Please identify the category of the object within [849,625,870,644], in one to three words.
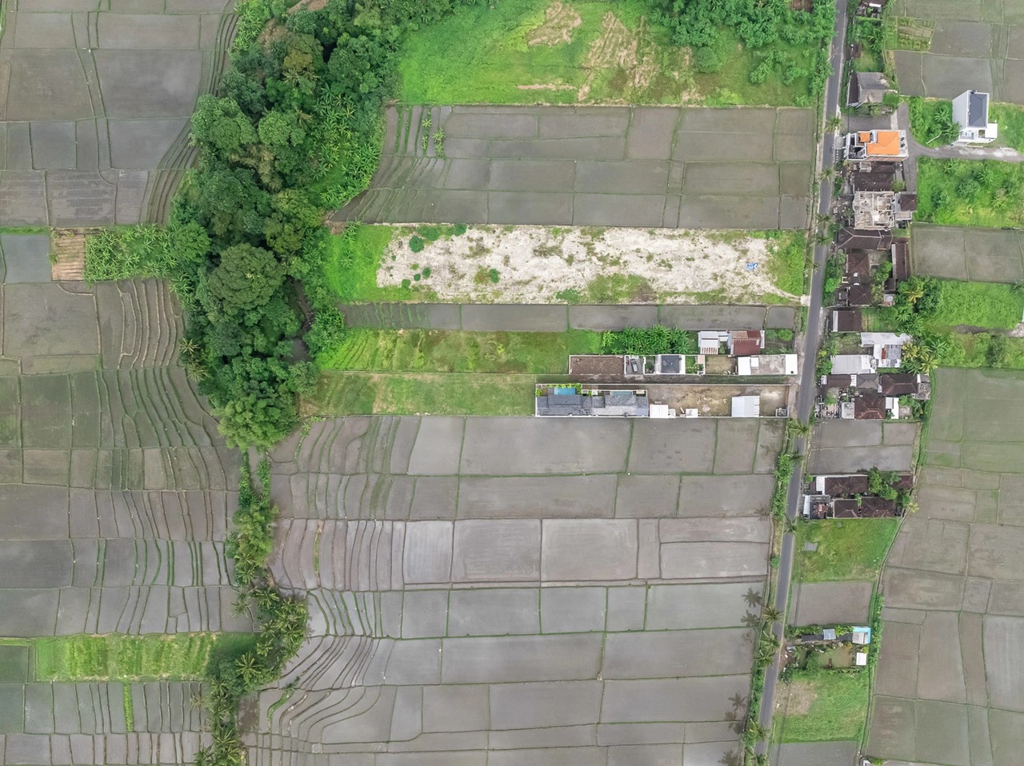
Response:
shed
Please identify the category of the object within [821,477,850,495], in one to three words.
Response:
house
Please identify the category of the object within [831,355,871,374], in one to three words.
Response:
house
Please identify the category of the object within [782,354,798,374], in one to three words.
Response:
building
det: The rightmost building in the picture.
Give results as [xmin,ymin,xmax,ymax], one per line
[951,90,998,145]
